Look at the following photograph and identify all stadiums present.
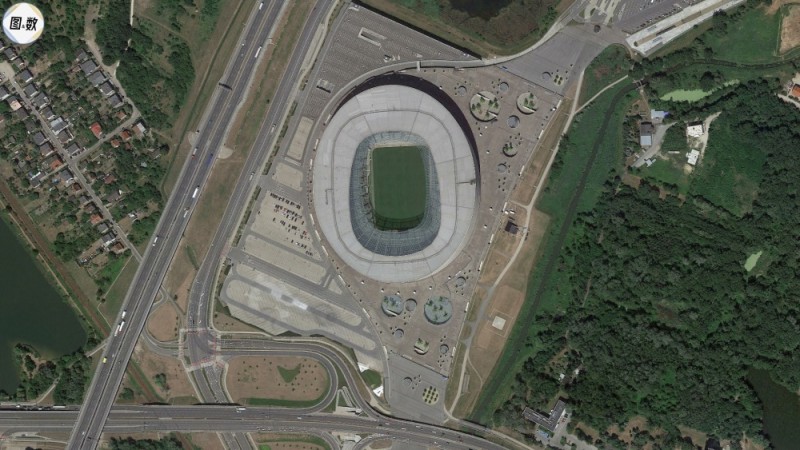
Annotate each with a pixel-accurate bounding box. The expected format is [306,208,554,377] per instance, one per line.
[312,84,480,287]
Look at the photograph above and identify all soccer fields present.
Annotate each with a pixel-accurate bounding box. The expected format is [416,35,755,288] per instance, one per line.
[371,148,426,231]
